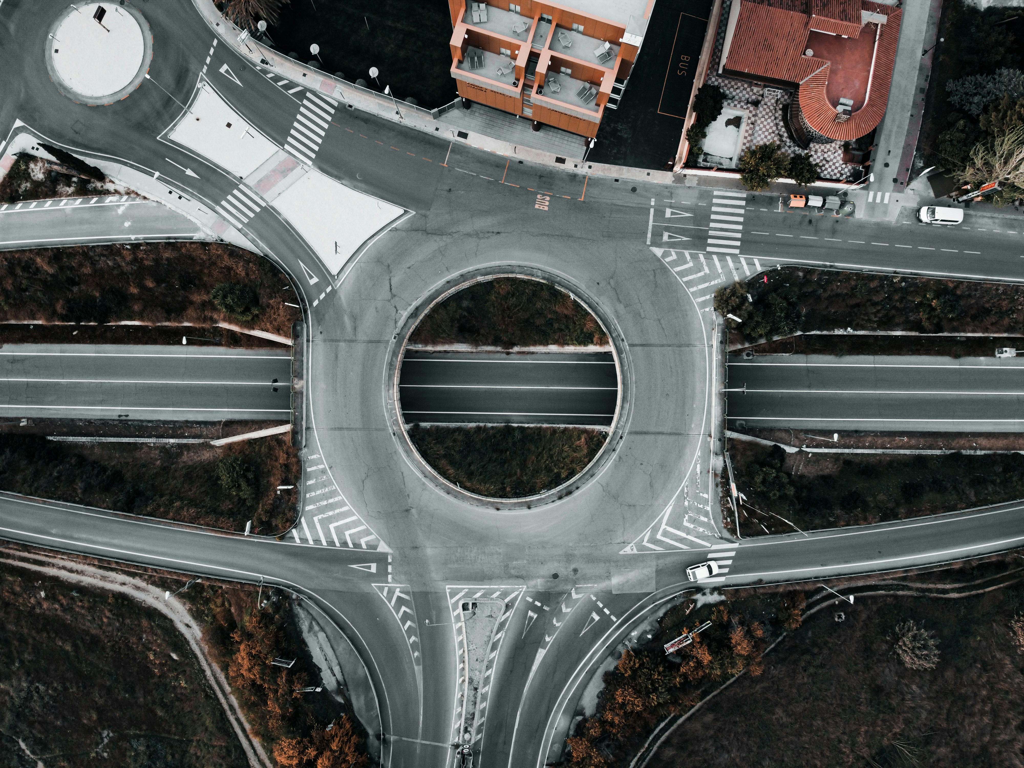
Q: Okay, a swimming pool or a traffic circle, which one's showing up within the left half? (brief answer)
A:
traffic circle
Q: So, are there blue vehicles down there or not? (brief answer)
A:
No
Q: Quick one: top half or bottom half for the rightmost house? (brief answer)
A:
top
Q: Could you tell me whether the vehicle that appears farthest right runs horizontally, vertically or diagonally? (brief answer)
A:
horizontally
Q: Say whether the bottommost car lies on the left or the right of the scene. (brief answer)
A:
right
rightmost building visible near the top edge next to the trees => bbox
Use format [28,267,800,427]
[719,0,903,154]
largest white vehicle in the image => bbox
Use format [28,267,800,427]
[916,204,964,225]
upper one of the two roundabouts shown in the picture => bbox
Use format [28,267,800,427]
[44,0,154,105]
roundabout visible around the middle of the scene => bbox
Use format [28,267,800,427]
[307,205,712,592]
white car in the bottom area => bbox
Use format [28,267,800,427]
[685,561,720,583]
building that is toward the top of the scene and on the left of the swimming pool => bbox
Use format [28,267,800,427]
[448,0,656,143]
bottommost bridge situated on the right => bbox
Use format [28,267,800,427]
[715,324,730,458]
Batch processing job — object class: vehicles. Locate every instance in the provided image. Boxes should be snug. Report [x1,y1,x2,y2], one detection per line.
[916,204,964,225]
[685,561,720,583]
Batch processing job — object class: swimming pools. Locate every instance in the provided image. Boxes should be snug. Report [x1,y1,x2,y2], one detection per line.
[698,106,750,170]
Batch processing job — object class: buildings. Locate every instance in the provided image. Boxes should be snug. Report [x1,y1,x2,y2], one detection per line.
[719,0,903,154]
[448,0,656,143]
